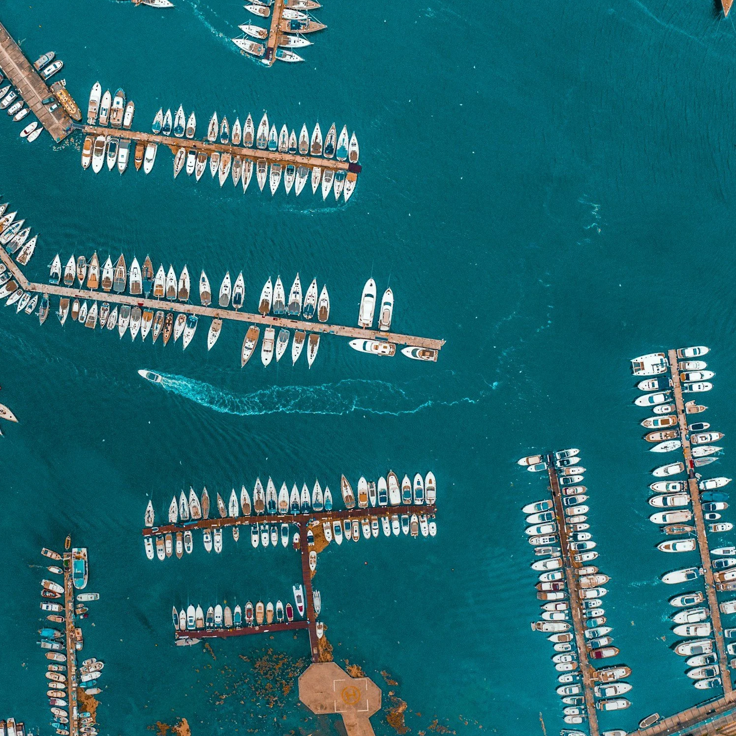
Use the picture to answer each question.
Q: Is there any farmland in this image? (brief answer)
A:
No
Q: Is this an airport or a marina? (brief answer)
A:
marina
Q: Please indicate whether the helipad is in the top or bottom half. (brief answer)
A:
bottom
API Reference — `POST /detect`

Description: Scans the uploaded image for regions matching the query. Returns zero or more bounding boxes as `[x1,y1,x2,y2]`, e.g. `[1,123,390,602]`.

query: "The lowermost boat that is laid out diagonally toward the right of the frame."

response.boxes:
[640,712,662,728]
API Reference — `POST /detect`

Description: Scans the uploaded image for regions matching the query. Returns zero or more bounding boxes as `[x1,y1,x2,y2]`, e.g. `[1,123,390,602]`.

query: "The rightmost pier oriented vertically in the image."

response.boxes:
[668,349,732,695]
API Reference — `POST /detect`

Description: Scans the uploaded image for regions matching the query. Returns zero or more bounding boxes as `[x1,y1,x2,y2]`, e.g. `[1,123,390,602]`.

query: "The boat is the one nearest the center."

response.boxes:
[348,339,399,359]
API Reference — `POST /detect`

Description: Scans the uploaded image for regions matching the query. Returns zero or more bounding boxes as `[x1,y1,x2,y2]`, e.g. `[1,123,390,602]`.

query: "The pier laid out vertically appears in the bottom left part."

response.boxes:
[64,552,78,736]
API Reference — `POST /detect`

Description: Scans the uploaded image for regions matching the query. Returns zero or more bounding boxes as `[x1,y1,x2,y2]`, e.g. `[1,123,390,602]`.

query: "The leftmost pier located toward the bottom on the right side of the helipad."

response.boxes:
[547,454,597,736]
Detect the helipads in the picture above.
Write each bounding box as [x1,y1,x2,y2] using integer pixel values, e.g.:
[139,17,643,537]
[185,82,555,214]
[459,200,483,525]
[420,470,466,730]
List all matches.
[298,662,382,736]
